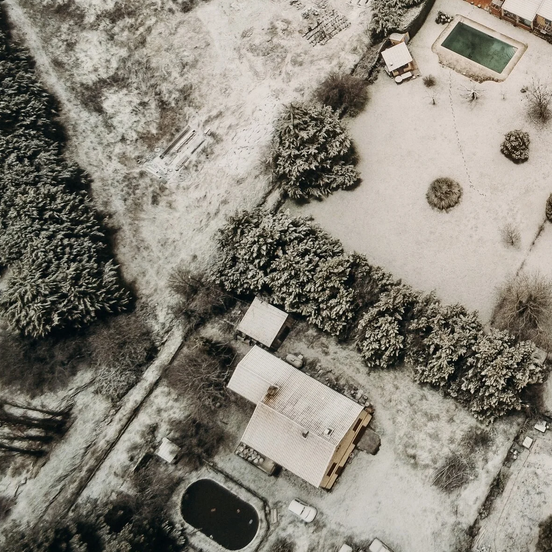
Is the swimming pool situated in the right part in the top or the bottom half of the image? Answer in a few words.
top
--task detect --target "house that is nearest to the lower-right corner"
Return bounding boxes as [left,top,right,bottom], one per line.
[232,346,371,490]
